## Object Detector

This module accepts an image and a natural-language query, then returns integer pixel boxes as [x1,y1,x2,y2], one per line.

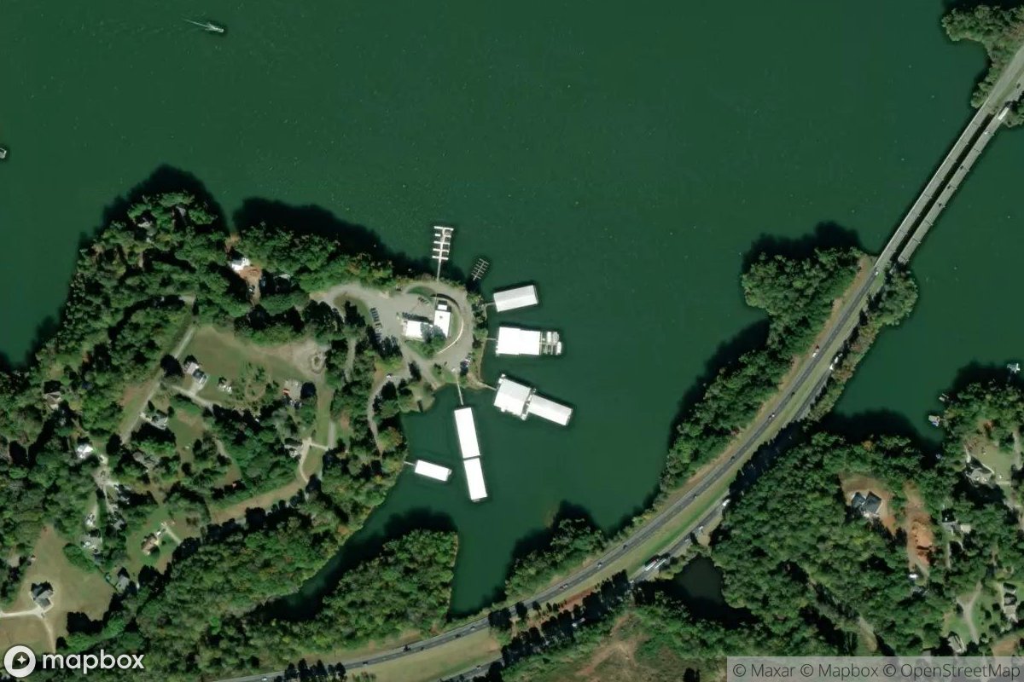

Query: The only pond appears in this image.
[672,556,754,629]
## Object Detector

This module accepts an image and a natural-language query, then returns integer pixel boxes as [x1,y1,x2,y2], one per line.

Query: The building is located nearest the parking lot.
[402,302,450,339]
